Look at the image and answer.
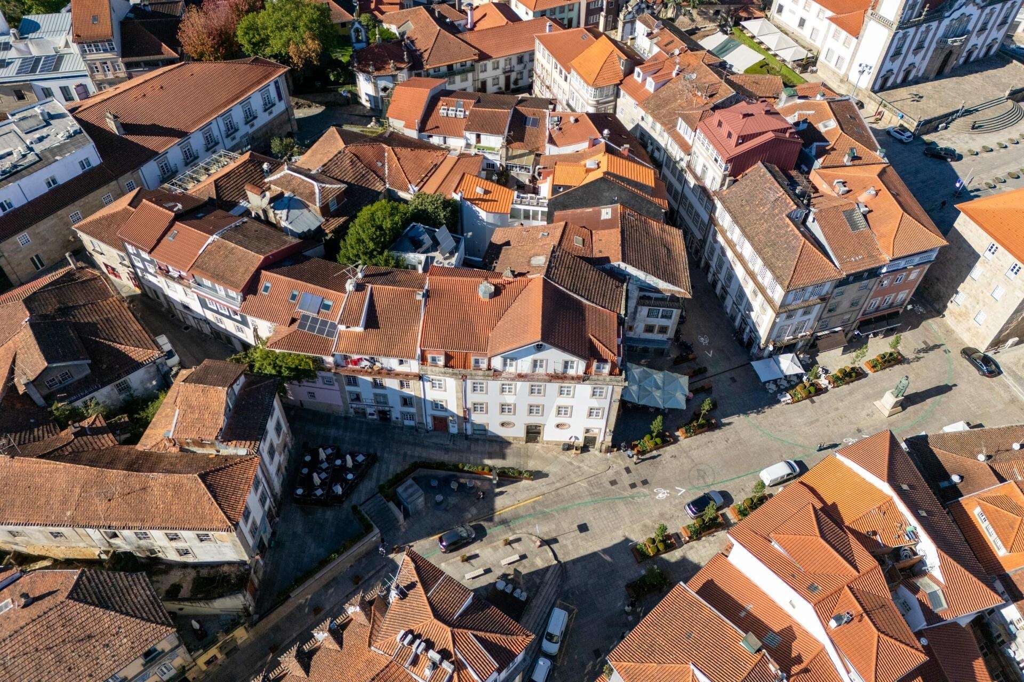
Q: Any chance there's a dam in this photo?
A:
No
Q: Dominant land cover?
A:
buildings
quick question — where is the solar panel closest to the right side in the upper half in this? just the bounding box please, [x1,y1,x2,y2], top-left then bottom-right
[520,115,543,128]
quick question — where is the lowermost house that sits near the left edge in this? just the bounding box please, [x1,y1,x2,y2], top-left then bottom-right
[0,567,208,682]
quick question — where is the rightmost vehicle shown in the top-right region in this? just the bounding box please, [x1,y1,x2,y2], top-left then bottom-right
[928,146,958,160]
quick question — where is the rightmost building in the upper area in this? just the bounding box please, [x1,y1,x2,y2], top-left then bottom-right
[923,187,1024,339]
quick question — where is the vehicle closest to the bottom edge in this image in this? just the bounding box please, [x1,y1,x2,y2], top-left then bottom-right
[525,656,555,682]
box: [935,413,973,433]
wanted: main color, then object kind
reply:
white umbrella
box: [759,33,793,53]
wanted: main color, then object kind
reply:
white umbrella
